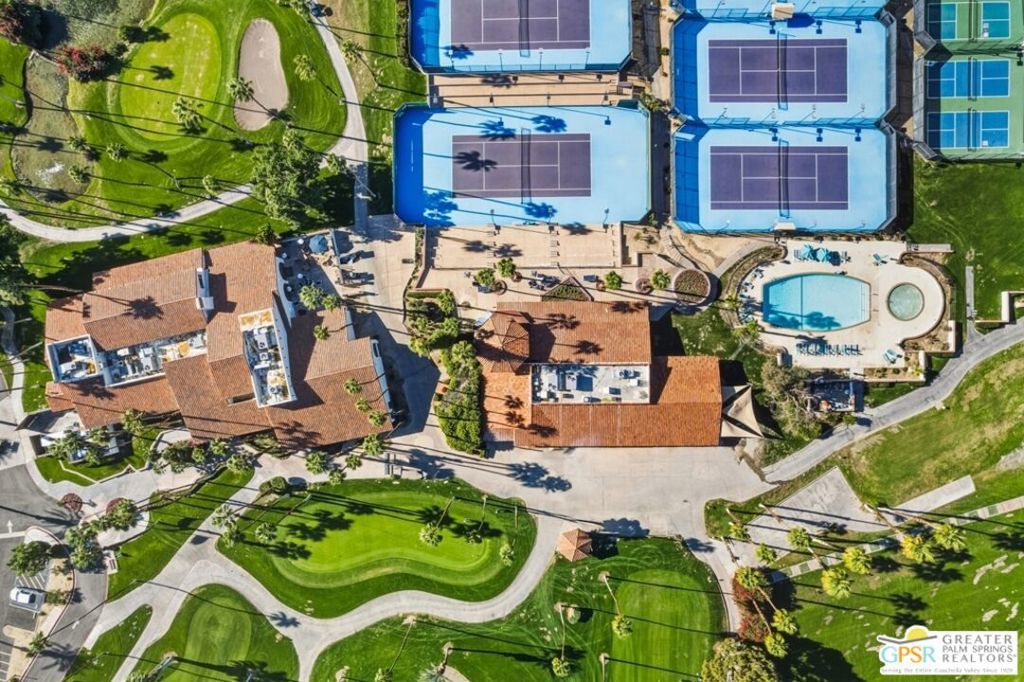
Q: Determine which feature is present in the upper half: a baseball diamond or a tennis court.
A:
tennis court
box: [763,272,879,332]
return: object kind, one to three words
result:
swimming pool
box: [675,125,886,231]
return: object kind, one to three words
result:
tennis court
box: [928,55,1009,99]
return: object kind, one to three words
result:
sports court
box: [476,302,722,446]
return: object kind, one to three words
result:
building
